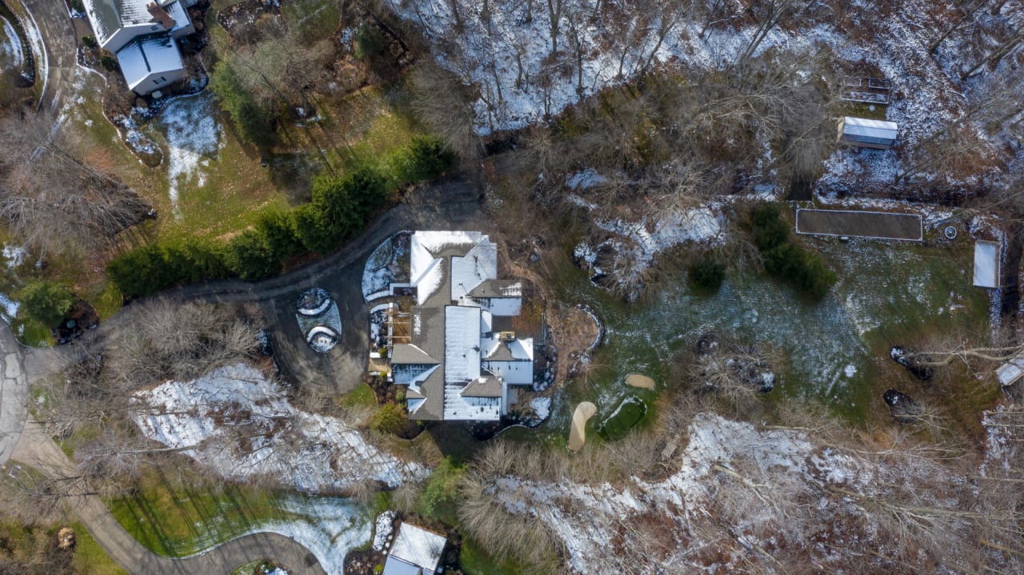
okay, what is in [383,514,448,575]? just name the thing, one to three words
house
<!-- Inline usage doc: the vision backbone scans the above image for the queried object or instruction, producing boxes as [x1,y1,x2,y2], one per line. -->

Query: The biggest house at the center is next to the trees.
[391,231,533,420]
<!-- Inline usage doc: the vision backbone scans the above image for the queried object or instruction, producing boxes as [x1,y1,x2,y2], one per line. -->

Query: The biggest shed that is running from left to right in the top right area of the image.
[843,118,907,147]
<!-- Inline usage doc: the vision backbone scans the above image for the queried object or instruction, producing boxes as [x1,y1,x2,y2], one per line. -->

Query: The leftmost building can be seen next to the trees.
[81,0,197,92]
